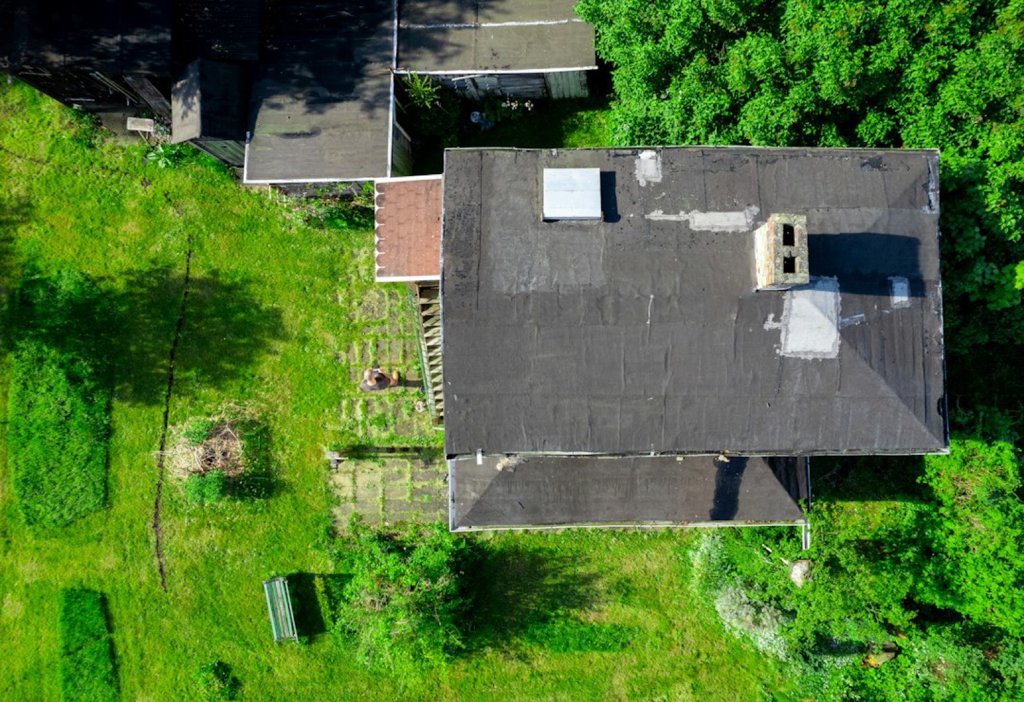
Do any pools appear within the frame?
No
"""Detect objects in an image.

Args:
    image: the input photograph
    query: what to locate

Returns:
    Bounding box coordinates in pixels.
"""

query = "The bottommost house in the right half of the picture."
[375,144,952,551]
